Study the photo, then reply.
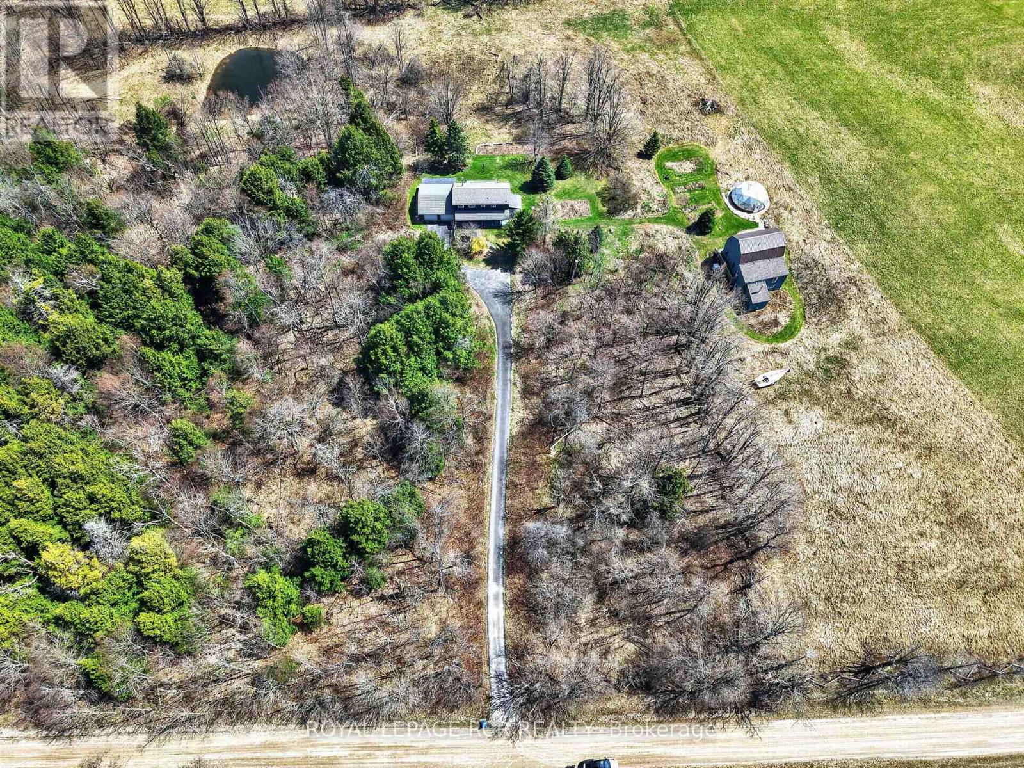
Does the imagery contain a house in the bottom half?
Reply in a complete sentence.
No, no house can be made out in the bottom half.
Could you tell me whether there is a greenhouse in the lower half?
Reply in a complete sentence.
No, there's no greenhouse to be seen in the lower half.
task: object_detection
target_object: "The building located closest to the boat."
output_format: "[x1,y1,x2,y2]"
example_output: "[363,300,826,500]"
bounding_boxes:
[721,224,792,312]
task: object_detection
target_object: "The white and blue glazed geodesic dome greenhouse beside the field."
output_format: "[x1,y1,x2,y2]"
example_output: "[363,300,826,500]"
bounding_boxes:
[730,179,770,215]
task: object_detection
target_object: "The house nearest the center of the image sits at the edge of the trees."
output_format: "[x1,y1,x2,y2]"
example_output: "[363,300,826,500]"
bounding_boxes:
[417,177,520,231]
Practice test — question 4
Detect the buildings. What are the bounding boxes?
[721,224,792,312]
[730,179,770,215]
[417,177,520,231]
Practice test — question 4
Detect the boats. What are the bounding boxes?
[755,368,790,387]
